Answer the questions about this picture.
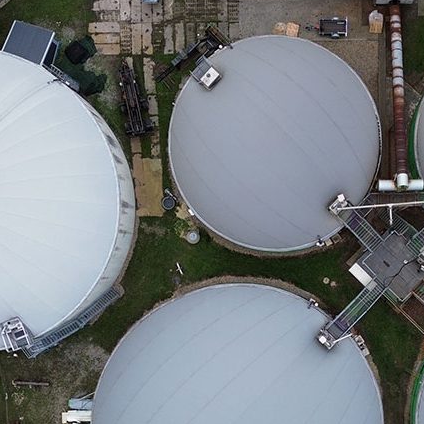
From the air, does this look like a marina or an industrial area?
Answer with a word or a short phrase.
industrial area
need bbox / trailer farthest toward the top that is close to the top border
[305,16,347,42]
